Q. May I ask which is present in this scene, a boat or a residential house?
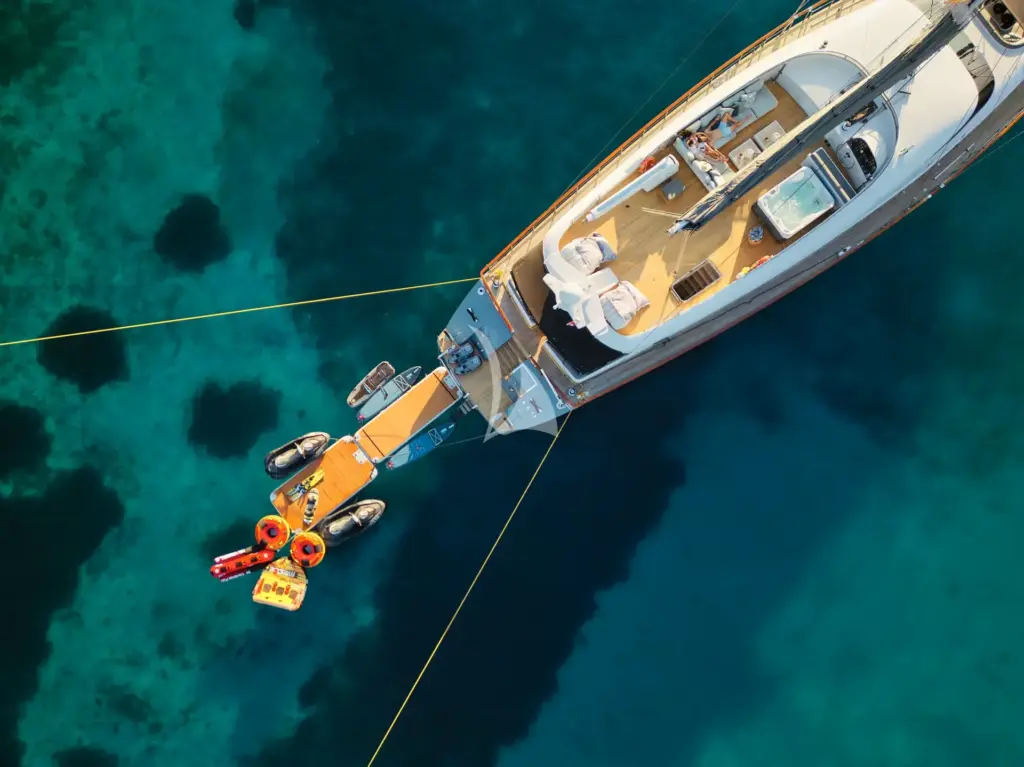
boat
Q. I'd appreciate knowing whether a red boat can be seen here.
Yes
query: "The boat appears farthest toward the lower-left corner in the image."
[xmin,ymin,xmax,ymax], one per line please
[208,548,272,581]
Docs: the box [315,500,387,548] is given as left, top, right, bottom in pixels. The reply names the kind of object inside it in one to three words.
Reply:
boat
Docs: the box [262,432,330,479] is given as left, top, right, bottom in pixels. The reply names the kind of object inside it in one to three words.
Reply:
boat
